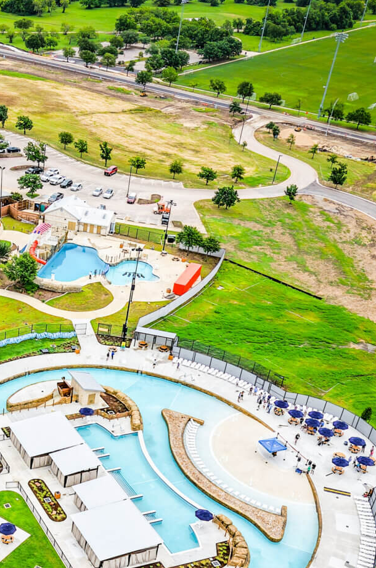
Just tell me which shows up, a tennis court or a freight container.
freight container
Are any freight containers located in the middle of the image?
Yes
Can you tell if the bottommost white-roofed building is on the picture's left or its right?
left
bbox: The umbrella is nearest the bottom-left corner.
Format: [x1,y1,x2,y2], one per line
[0,523,15,537]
